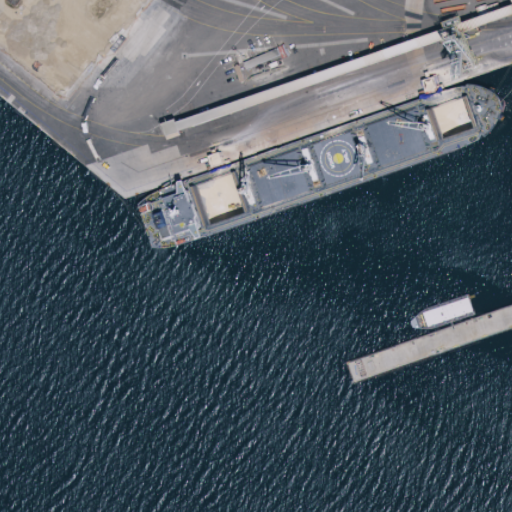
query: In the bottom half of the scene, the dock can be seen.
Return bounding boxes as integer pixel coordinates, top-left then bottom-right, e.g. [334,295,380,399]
[347,304,512,382]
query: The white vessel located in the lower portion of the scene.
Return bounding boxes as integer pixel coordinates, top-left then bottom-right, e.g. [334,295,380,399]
[410,294,476,328]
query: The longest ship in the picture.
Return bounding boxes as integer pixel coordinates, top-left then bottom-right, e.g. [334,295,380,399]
[138,84,502,248]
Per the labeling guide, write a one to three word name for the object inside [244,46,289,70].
building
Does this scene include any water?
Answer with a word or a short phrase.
Yes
